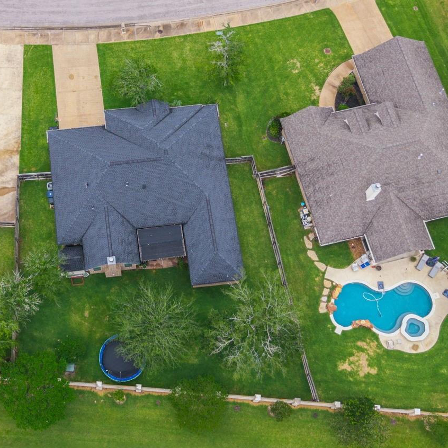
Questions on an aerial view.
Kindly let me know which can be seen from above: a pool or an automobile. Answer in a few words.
pool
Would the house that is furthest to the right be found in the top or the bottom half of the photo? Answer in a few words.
top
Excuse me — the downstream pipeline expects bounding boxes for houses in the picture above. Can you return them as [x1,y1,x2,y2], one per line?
[47,100,245,289]
[281,37,448,268]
